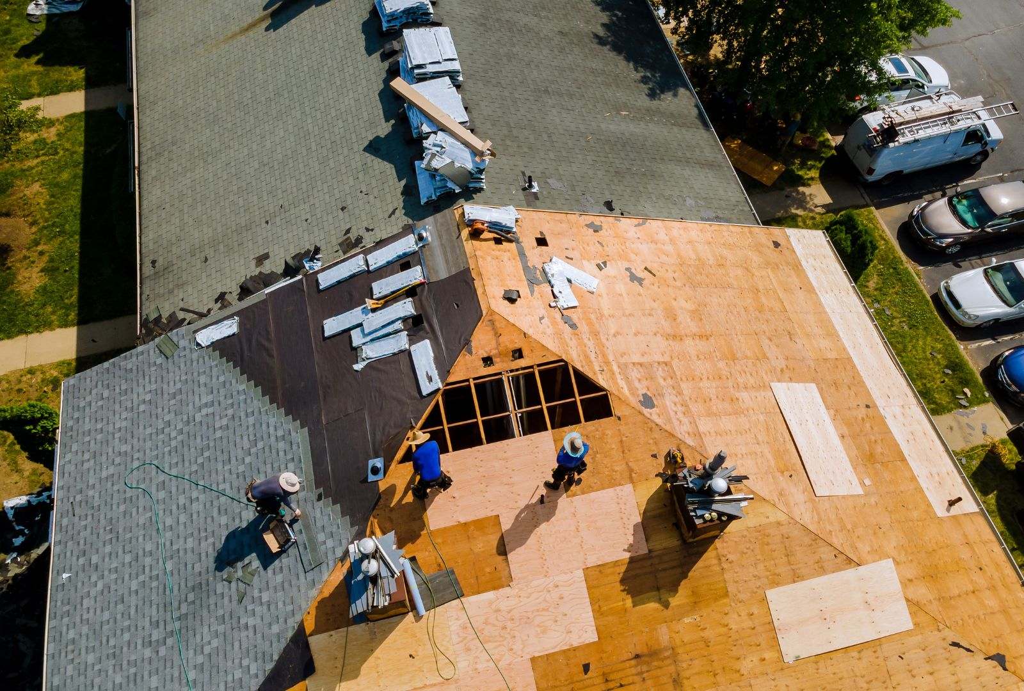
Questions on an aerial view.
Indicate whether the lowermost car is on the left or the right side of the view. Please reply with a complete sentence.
The lowermost car appears in the right half of the scene.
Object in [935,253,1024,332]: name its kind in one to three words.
car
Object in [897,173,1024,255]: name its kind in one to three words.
car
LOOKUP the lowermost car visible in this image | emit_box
[997,346,1024,408]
